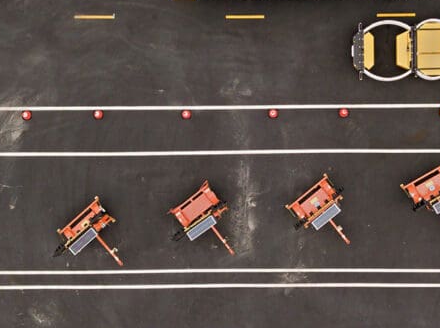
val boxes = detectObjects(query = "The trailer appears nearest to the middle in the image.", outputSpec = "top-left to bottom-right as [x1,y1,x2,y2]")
[167,178,235,253]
